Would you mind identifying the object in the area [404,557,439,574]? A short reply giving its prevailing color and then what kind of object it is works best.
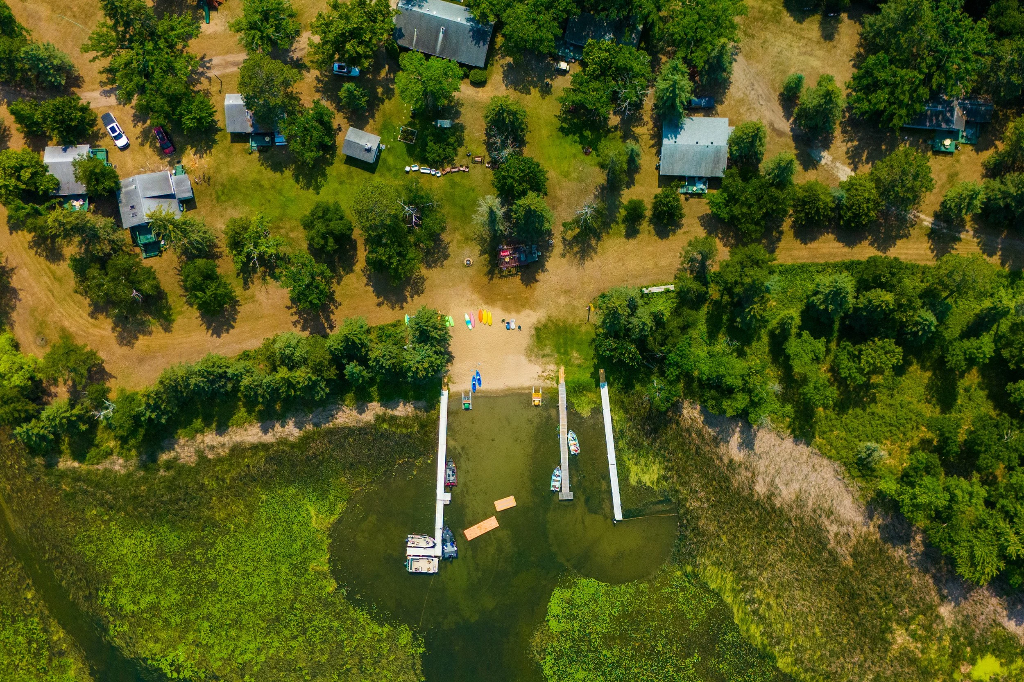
white boat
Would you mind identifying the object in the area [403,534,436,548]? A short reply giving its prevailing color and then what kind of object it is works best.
white boat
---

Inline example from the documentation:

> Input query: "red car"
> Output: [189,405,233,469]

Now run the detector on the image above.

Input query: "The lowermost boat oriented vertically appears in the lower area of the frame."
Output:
[443,525,458,562]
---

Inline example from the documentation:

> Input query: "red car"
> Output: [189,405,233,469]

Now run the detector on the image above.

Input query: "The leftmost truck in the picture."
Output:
[103,110,132,150]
